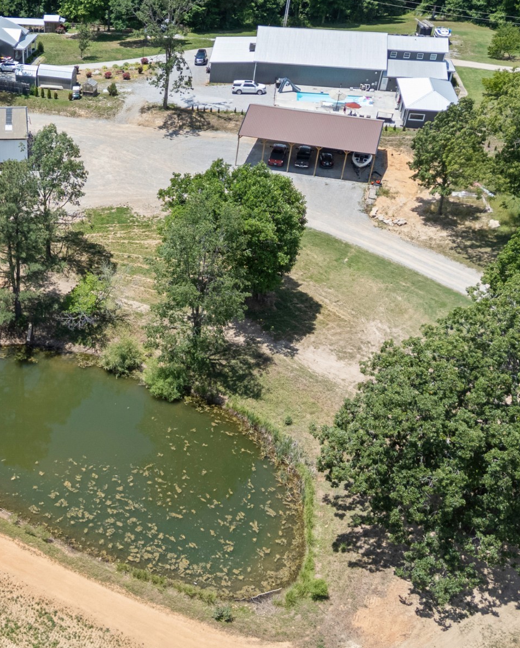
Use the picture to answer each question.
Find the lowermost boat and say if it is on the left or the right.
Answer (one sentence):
The lowermost boat appears in the right half of the scene.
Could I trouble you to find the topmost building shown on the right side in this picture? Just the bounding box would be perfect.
[210,27,464,93]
